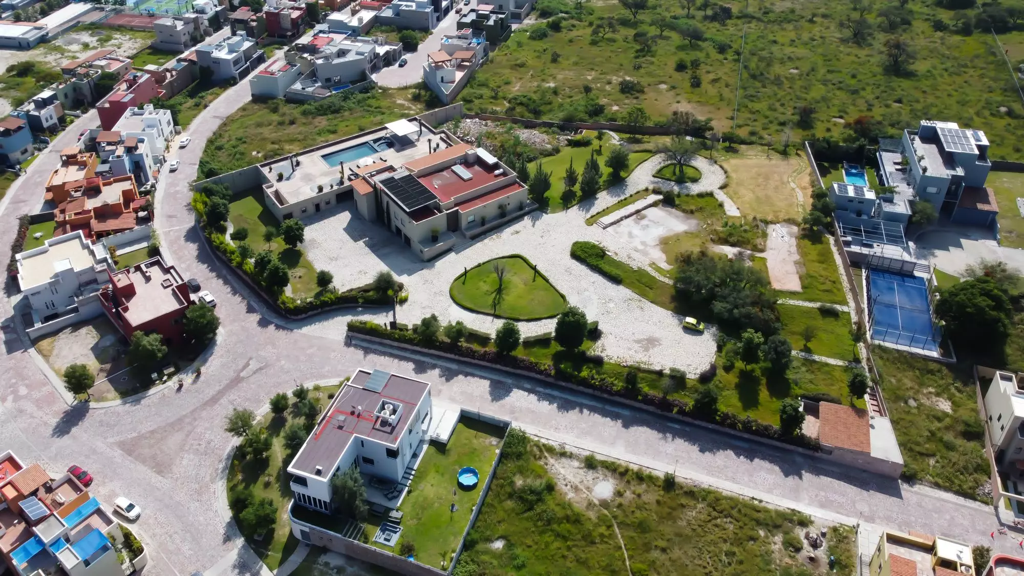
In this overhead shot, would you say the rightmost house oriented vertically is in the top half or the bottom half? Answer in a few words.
bottom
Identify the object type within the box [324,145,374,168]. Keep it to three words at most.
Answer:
swimming pool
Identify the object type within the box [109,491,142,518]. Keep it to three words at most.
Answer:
car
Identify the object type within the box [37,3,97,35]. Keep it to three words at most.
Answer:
shed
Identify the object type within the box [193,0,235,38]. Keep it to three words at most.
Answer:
house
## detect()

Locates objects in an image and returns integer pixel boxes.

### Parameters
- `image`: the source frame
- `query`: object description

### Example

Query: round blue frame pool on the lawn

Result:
[456,467,481,492]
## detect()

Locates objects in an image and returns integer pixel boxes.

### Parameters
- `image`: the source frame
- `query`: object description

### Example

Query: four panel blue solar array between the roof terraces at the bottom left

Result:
[18,497,50,520]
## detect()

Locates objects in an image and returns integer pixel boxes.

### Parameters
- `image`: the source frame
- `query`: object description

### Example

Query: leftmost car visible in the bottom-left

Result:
[63,460,94,485]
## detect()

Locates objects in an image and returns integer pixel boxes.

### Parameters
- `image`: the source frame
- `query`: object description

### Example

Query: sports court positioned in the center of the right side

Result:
[869,267,939,354]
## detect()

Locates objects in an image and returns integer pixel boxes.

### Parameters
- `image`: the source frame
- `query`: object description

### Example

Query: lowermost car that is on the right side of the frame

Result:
[682,311,706,329]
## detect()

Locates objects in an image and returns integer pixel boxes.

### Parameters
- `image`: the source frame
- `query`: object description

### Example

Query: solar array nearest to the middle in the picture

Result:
[380,172,438,211]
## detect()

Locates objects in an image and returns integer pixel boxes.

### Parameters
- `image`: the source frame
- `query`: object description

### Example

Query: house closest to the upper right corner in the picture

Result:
[830,118,999,232]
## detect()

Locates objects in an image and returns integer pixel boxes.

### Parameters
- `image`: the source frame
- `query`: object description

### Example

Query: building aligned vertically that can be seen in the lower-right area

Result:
[975,371,1024,488]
